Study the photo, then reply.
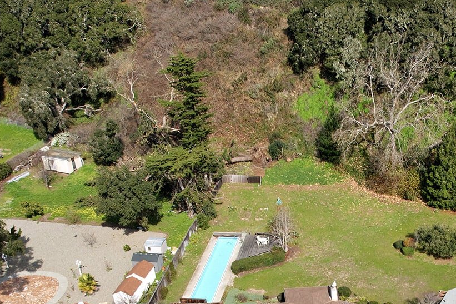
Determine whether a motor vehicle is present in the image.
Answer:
No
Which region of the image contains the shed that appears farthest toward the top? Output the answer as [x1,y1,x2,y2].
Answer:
[39,144,82,173]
